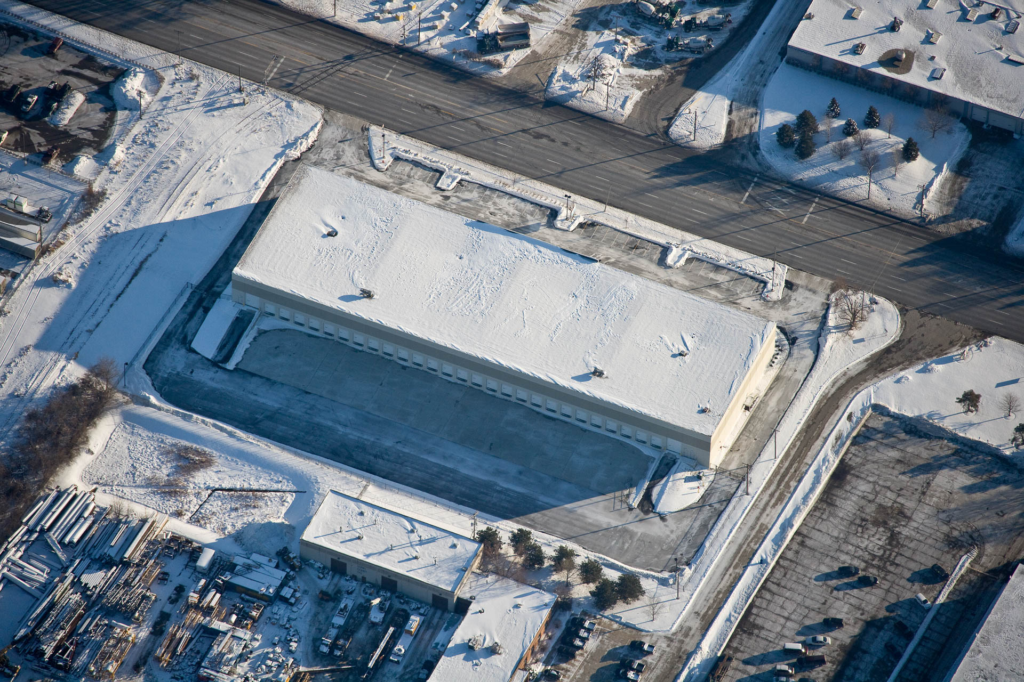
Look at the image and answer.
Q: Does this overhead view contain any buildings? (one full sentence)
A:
Yes, the image includes a building.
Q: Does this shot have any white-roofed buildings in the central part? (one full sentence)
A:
Yes, a white-roofed building appears in the central part.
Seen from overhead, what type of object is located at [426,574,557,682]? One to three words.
building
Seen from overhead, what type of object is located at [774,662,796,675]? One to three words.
vehicle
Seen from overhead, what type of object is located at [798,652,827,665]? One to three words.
vehicle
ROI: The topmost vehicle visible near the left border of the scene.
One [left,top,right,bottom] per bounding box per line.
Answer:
[47,27,66,53]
